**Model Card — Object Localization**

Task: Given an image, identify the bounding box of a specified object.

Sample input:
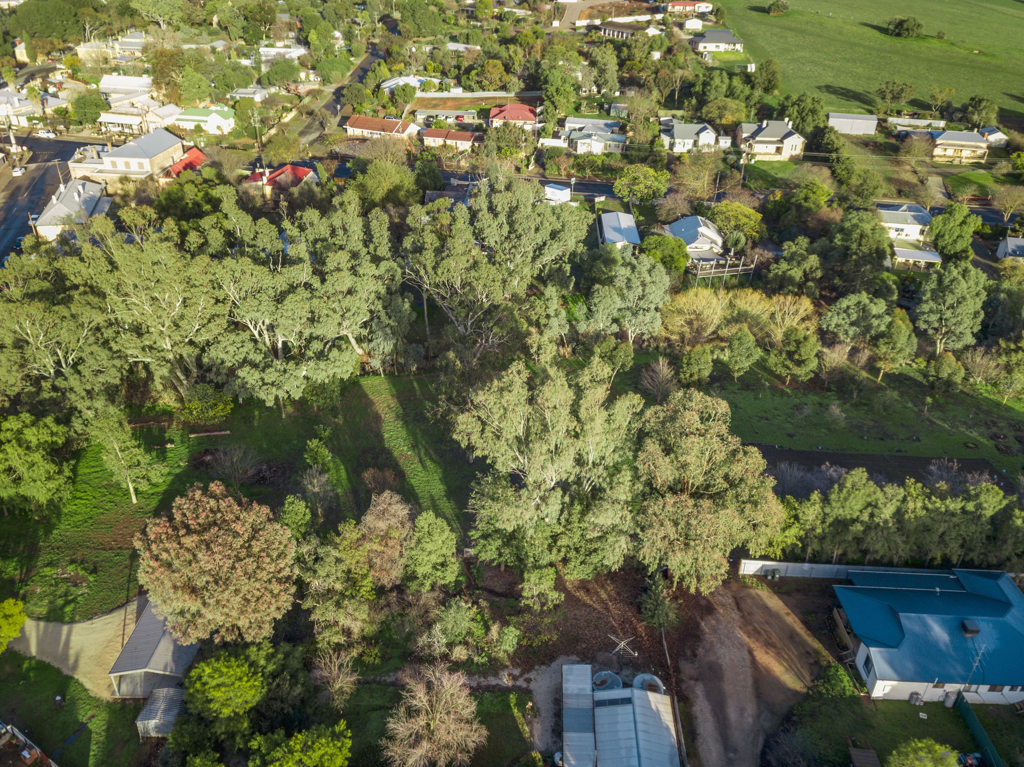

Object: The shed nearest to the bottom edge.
[836,736,880,767]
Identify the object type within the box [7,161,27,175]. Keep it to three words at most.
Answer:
car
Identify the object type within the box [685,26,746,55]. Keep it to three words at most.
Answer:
house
